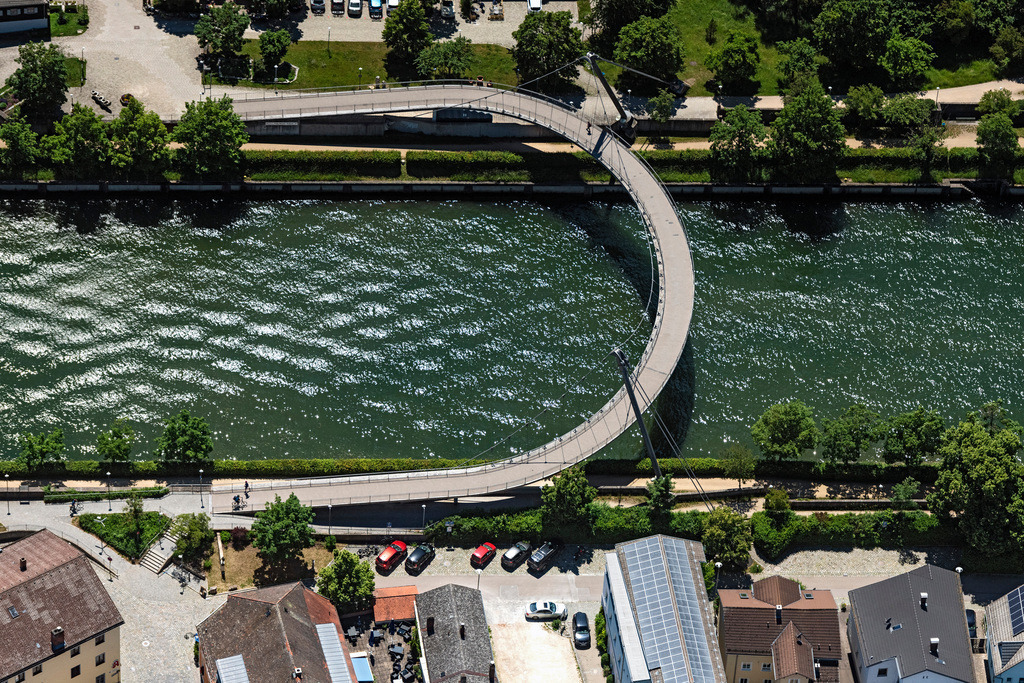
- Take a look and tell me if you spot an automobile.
Yes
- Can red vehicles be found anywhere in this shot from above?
Yes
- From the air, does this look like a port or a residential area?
residential area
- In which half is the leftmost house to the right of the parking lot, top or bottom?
bottom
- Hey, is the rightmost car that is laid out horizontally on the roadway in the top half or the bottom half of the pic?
bottom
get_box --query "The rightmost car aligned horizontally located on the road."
[524,599,568,620]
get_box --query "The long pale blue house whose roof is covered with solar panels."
[606,534,730,683]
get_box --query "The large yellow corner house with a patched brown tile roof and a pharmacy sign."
[0,529,125,683]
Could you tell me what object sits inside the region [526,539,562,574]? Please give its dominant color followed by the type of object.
black car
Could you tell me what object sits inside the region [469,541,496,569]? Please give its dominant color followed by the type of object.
red car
